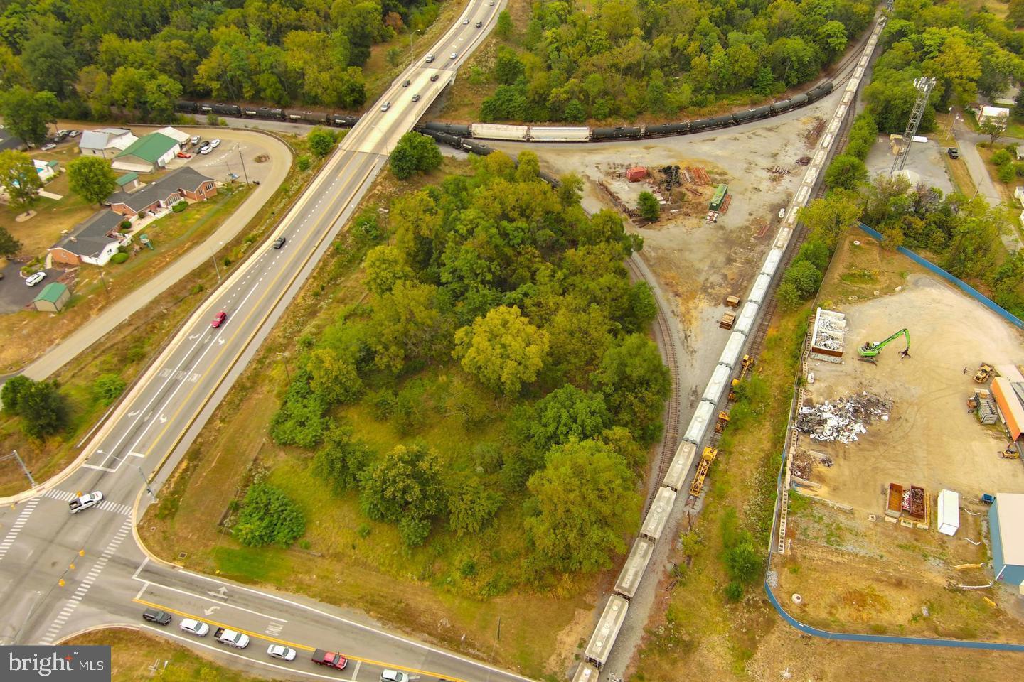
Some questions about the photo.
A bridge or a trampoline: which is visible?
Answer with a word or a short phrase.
bridge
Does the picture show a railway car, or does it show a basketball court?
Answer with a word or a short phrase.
railway car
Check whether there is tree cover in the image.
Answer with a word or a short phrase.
Yes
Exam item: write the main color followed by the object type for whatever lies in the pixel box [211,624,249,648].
white truck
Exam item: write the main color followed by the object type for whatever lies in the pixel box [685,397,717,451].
white rail car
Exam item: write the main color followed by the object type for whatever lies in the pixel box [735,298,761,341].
white rail car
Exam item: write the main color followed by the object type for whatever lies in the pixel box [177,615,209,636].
white car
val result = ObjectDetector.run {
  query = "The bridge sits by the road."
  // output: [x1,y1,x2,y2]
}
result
[334,63,461,156]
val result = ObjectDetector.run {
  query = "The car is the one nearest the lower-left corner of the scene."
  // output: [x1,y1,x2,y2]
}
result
[139,605,171,625]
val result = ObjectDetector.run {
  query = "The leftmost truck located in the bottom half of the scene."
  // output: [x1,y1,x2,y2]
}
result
[66,490,102,512]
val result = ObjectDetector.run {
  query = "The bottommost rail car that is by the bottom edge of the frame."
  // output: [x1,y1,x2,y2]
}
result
[571,658,600,682]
